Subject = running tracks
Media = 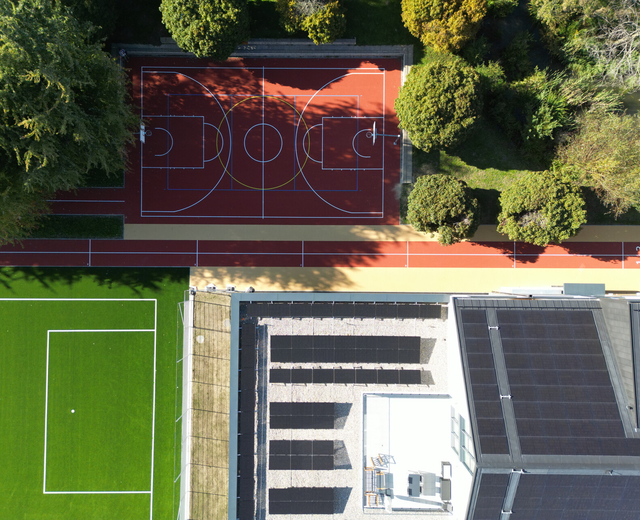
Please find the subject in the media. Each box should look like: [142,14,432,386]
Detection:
[0,239,640,268]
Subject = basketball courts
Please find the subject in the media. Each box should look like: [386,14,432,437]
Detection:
[124,58,401,224]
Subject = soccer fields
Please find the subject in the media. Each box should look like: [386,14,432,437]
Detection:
[0,267,190,520]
